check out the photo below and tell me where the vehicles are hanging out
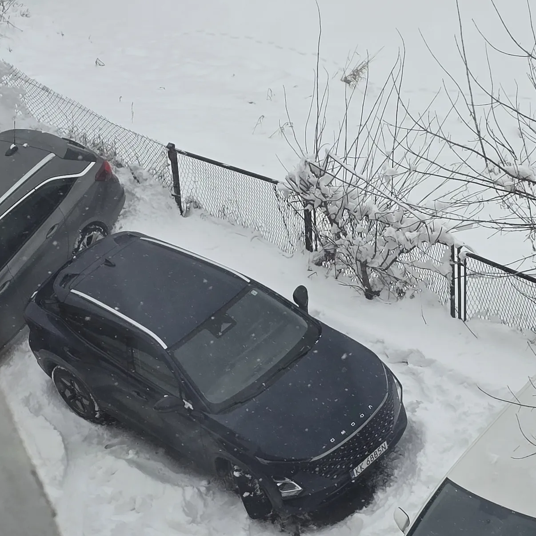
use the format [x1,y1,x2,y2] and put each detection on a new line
[27,232,405,523]
[393,382,536,536]
[0,126,114,345]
